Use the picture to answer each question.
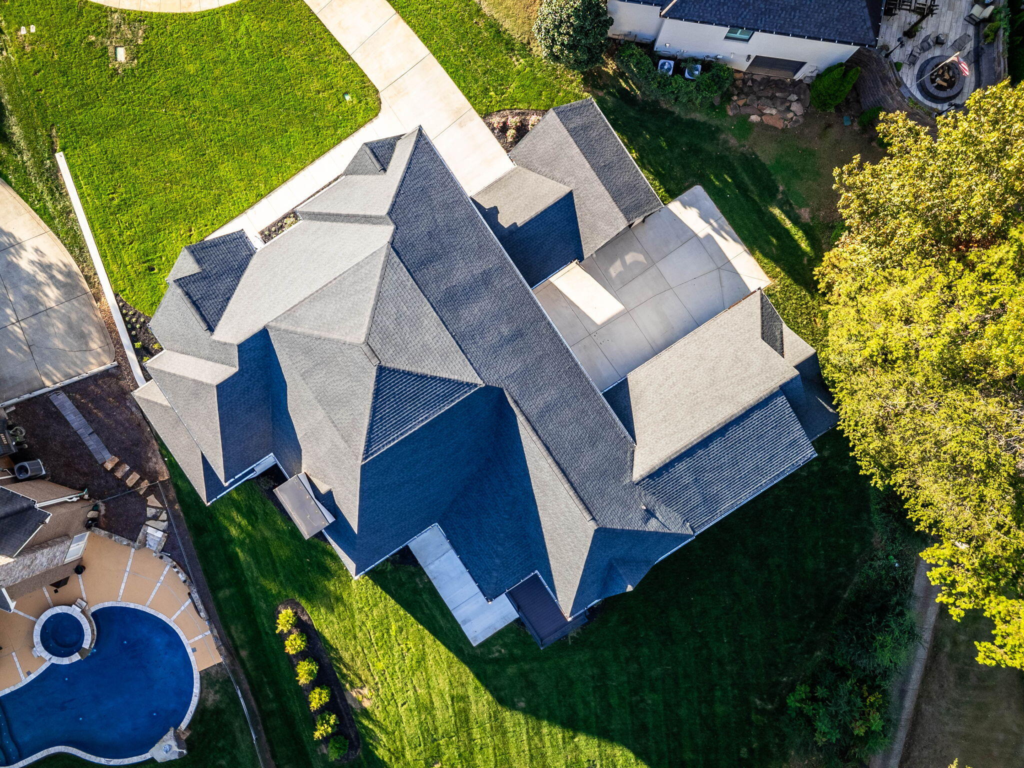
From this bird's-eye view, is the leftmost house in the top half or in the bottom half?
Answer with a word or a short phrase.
bottom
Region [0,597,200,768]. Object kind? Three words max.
swimming pool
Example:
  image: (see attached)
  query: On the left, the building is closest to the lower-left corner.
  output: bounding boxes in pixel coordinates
[0,457,91,613]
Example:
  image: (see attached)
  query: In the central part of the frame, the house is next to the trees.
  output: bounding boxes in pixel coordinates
[131,98,842,619]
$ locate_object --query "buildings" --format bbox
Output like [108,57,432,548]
[608,0,888,75]
[131,98,842,619]
[0,457,91,613]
